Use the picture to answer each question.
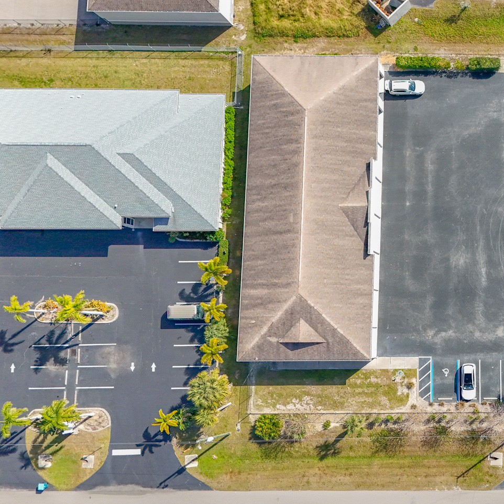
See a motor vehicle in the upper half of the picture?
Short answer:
Yes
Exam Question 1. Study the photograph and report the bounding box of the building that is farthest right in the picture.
[235,54,386,363]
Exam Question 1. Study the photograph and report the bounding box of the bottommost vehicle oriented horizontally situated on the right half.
[388,80,423,96]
